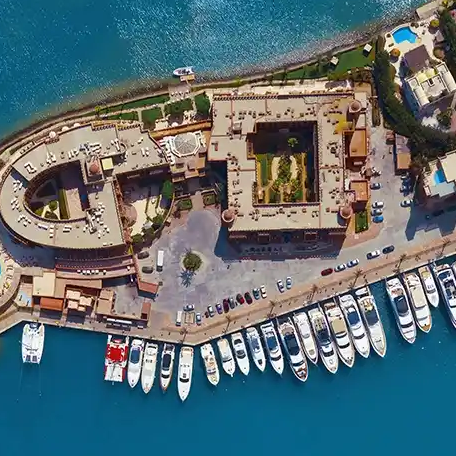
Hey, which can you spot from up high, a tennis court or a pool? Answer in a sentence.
There is a pool in the scene.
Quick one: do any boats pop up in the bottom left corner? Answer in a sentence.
Yes, a boat is visible in the bottom left corner.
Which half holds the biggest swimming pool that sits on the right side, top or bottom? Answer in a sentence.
Seen from above, the biggest swimming pool that sits on the right side lies in the top half of the view.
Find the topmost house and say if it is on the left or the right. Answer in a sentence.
It is on the right.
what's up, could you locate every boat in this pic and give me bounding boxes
[128,338,144,388]
[217,337,235,376]
[105,337,127,384]
[247,327,265,373]
[402,271,430,333]
[160,344,175,392]
[293,311,318,365]
[200,343,219,386]
[418,267,438,308]
[386,274,415,344]
[21,324,43,366]
[177,346,194,402]
[231,332,249,376]
[337,292,368,358]
[356,288,386,358]
[308,306,336,373]
[262,322,283,375]
[141,341,158,394]
[174,69,195,79]
[322,300,352,367]
[276,317,308,381]
[433,262,456,325]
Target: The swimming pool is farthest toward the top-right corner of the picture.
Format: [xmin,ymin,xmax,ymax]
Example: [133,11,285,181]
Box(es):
[391,25,420,46]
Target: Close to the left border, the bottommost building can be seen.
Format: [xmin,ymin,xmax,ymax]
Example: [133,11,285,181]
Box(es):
[20,267,141,325]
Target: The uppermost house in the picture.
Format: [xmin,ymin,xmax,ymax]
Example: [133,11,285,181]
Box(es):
[401,62,456,120]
